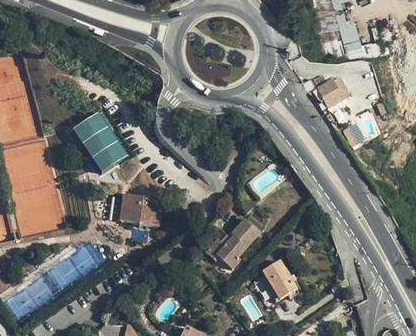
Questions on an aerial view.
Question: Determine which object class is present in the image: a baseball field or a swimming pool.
swimming pool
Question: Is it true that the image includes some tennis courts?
Yes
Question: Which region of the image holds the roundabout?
top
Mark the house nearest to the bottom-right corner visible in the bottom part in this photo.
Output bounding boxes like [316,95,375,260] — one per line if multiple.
[263,258,300,301]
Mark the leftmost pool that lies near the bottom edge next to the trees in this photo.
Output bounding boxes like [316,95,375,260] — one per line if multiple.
[156,298,178,322]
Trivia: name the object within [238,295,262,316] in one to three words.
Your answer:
swimming pool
